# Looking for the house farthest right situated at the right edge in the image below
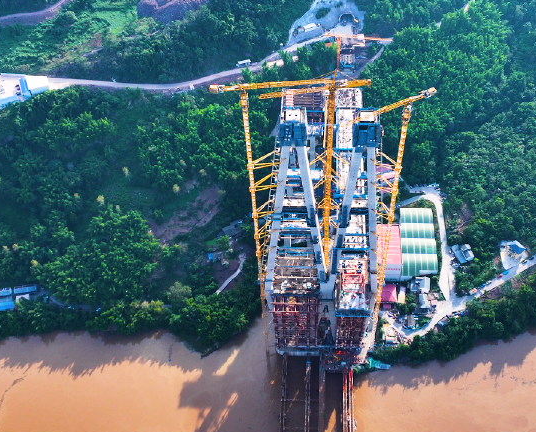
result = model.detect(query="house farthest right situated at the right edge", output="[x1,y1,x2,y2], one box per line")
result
[504,241,526,267]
